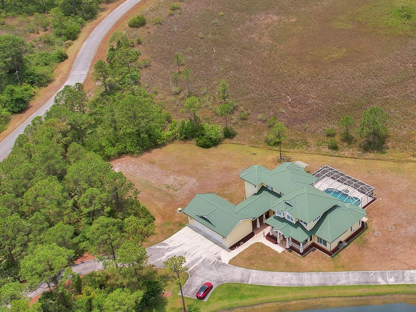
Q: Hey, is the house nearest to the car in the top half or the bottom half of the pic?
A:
bottom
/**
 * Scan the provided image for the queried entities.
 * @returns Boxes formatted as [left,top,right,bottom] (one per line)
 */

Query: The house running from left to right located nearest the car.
[184,160,370,252]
